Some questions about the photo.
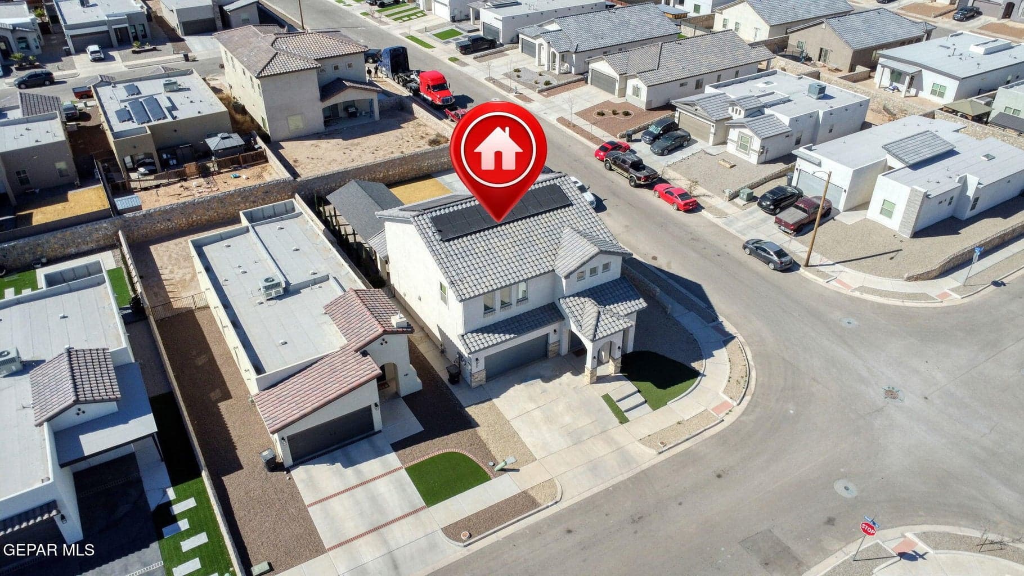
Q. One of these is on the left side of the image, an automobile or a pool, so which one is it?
automobile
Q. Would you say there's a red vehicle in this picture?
Yes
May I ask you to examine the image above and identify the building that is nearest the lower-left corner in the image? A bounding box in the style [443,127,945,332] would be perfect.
[0,257,169,573]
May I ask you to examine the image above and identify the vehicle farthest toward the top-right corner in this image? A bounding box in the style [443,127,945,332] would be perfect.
[949,2,977,18]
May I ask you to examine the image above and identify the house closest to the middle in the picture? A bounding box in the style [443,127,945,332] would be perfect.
[374,176,649,388]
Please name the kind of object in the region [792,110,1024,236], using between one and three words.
house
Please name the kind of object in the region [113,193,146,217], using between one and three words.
shed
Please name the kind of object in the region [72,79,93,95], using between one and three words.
vehicle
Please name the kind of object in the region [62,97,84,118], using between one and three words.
car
